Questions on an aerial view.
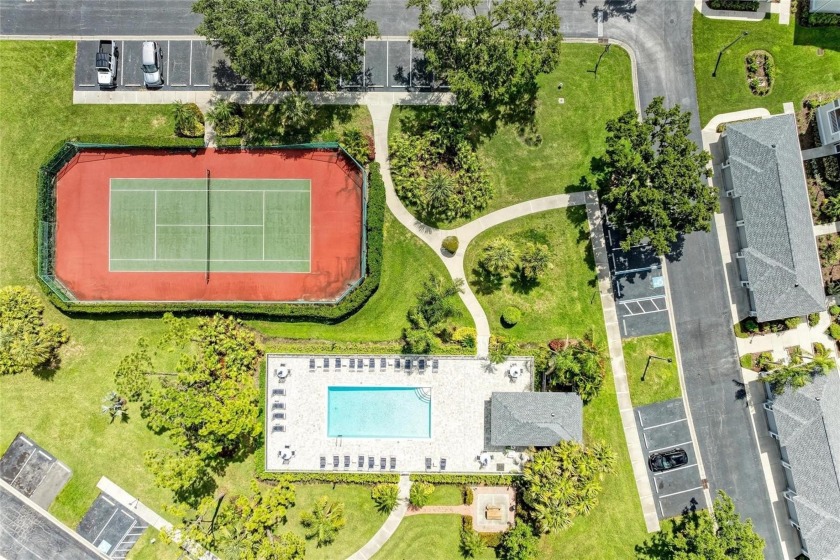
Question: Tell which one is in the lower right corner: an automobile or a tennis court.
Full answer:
There is an automobile in the lower right corner.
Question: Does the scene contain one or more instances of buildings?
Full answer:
Yes, there's a building here.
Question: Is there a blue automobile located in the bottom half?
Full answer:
No, I see no blue automobile in the bottom half.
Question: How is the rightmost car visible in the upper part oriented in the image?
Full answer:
In this picture, the rightmost car visible in the upper part lies up and down.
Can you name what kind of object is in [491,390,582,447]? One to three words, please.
building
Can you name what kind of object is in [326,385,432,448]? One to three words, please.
swimming pool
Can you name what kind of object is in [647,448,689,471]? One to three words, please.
car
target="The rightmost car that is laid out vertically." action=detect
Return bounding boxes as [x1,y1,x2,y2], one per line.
[142,45,164,89]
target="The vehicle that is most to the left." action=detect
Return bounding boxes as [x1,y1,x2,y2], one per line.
[95,39,119,88]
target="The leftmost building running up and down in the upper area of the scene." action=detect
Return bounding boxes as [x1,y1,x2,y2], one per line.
[719,115,828,323]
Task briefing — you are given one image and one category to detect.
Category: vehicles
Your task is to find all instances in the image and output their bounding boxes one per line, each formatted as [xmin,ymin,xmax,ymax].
[647,448,689,471]
[142,45,164,89]
[95,39,119,88]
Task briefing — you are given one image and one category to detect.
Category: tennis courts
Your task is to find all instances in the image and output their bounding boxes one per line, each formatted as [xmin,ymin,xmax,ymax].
[56,149,363,301]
